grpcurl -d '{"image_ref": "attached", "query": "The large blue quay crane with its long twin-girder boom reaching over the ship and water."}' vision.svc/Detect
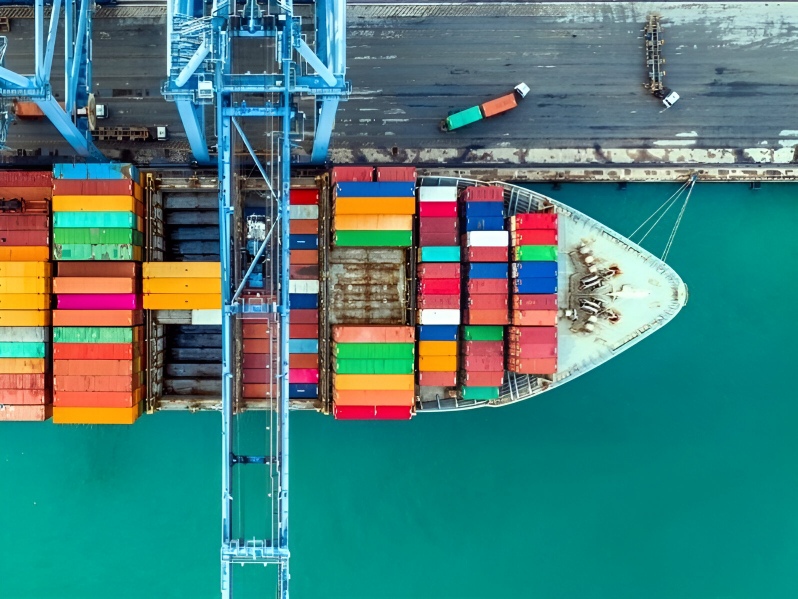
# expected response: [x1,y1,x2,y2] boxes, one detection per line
[160,0,355,599]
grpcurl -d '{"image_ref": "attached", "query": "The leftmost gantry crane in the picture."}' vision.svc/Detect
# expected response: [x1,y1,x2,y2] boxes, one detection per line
[0,0,109,166]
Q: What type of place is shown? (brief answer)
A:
port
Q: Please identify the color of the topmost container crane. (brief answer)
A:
blue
